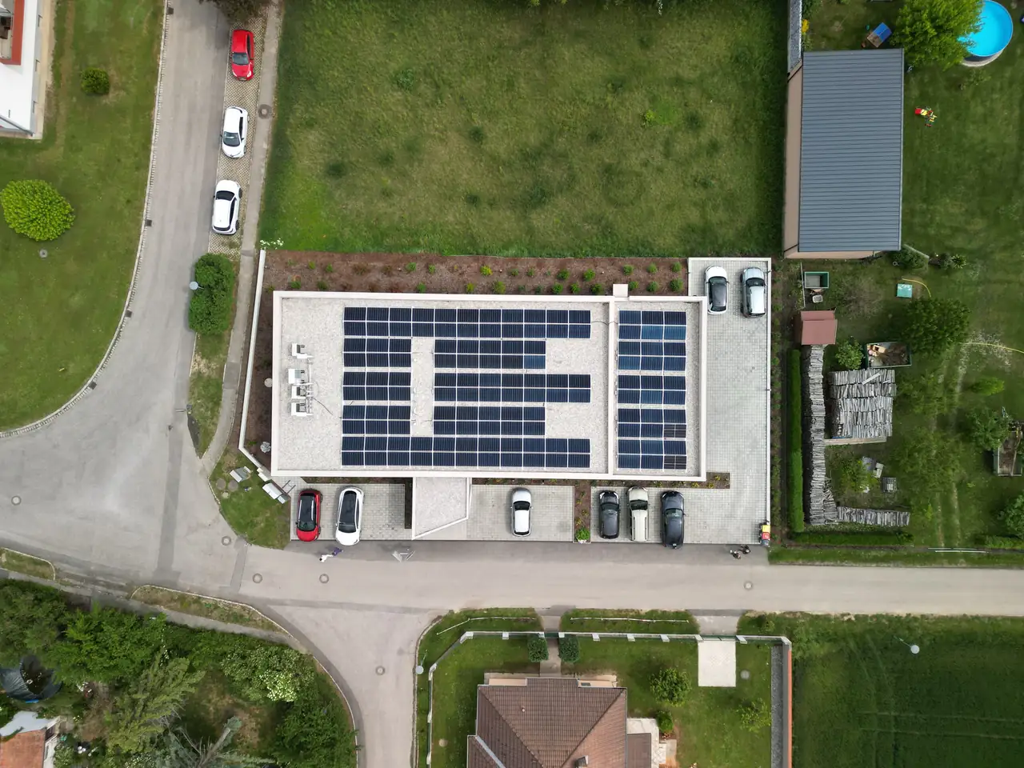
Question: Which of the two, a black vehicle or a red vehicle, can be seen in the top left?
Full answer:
The feature located in the top left is a red vehicle.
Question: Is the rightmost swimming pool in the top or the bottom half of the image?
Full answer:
Seen from above, the rightmost swimming pool lies in the top half of the view.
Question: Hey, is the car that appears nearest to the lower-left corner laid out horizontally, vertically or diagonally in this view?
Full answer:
What the image shows is the car that appears nearest to the lower-left corner lying vertically.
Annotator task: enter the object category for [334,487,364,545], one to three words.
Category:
car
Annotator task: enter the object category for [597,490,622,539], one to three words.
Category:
car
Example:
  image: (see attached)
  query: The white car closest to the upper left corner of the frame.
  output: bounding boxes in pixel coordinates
[221,106,251,160]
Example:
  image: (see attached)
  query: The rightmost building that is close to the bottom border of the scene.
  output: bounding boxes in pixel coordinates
[467,678,652,768]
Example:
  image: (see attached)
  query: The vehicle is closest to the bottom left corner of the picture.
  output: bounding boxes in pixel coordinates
[295,489,323,540]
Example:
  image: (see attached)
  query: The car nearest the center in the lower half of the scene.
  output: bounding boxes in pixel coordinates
[509,487,534,537]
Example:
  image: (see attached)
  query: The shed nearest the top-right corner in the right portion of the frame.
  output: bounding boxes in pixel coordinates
[783,44,905,258]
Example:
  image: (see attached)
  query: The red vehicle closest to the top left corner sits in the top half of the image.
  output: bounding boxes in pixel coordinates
[228,29,257,83]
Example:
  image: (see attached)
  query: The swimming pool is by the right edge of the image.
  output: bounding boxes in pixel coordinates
[954,0,1013,67]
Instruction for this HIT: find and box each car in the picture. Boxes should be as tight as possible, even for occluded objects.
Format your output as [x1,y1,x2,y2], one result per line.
[597,490,622,539]
[295,489,323,540]
[334,487,364,545]
[213,180,242,236]
[739,267,767,317]
[704,266,730,315]
[659,489,687,549]
[228,29,257,83]
[509,487,534,537]
[627,486,651,542]
[221,106,251,160]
